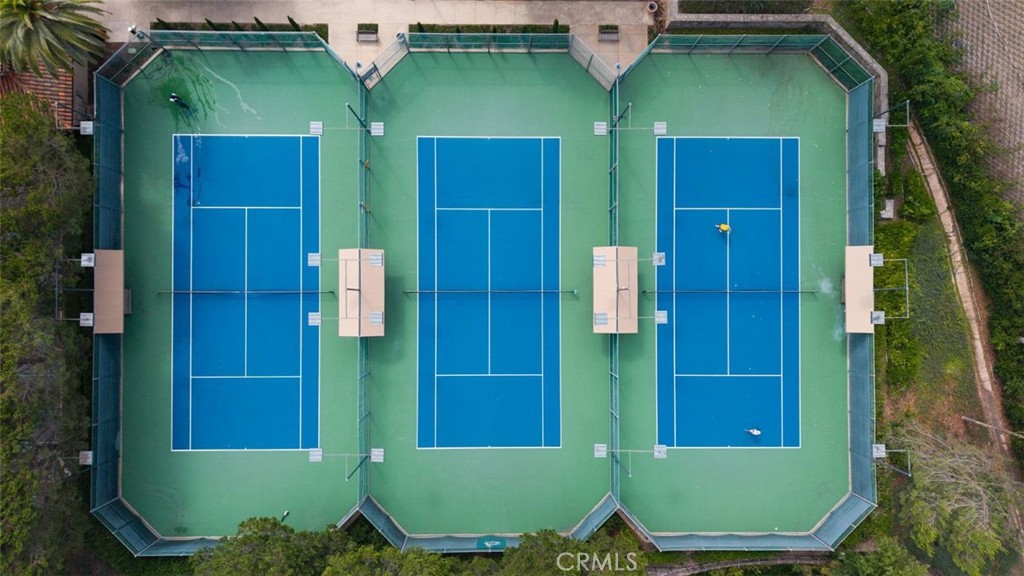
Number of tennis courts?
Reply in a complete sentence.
In total, there are 3 tennis courts in the scene.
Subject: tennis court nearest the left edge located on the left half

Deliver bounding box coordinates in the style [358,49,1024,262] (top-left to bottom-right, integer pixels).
[124,51,370,534]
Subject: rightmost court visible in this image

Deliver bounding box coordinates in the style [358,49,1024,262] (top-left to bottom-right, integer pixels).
[609,54,847,530]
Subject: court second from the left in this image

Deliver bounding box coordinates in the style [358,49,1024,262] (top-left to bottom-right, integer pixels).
[369,54,610,532]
